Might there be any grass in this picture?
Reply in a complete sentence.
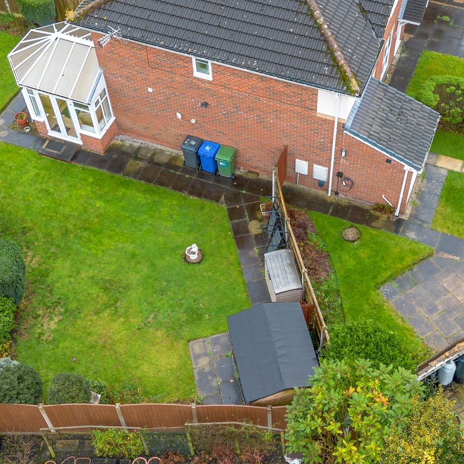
Yes, the picture does contain grass.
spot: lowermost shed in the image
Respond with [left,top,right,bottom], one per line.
[227,302,319,406]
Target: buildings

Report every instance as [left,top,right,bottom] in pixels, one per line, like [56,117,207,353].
[227,302,319,406]
[66,0,446,218]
